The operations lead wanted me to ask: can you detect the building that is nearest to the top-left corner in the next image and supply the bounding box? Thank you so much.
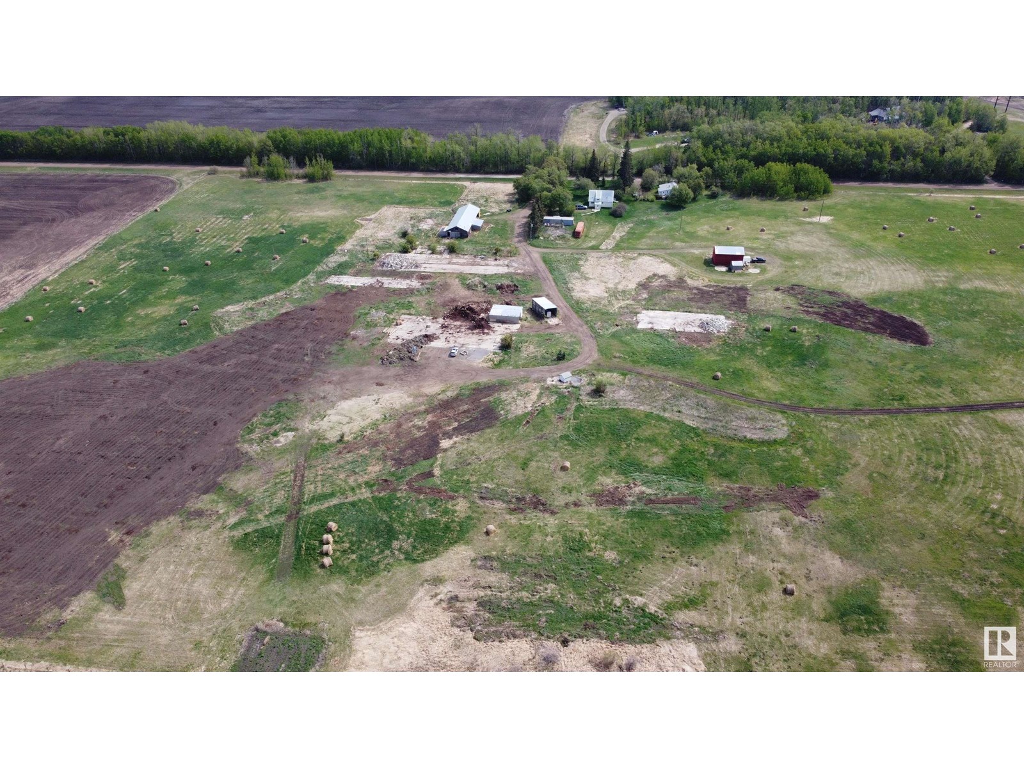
[438,201,485,238]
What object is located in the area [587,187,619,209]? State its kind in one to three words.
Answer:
house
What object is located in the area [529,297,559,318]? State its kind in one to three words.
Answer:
shed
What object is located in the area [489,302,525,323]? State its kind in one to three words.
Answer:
shed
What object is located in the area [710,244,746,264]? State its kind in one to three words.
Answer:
barn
